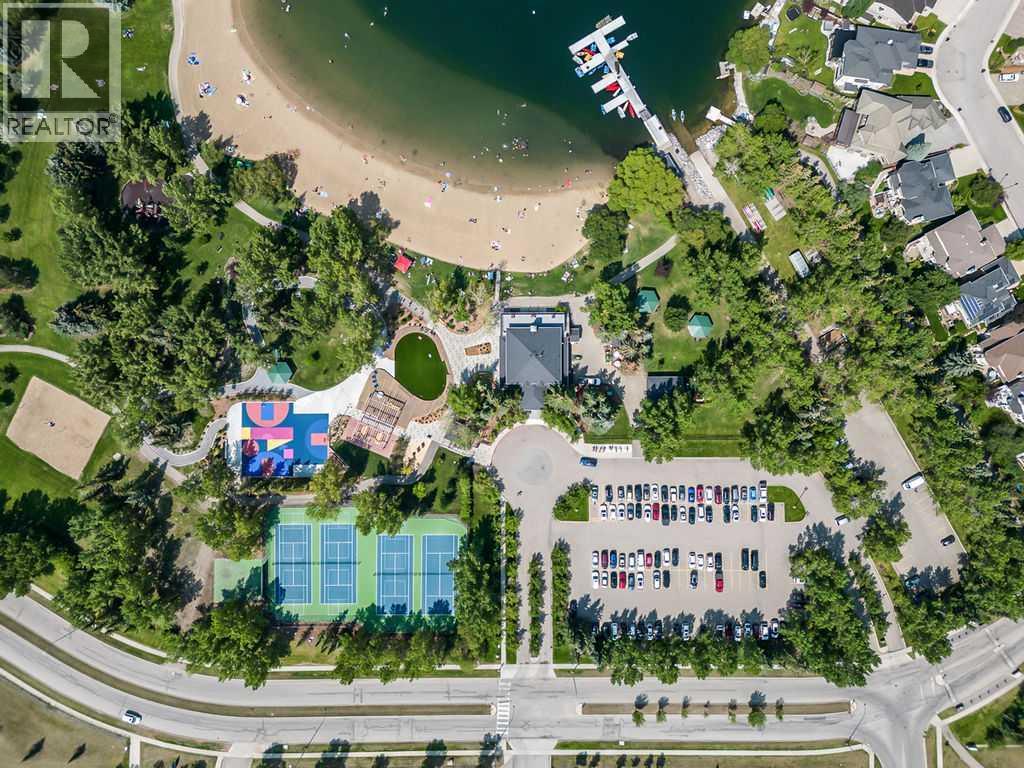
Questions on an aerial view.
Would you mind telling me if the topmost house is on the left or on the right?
right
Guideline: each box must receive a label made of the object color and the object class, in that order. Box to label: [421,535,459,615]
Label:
blue tennis court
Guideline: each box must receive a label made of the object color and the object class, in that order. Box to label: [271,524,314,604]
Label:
blue tennis court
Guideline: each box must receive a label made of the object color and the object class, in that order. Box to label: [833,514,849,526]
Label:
white vehicle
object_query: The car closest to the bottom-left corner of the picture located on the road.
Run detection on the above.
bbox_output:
[124,711,141,723]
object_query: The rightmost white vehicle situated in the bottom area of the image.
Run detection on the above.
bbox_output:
[903,475,923,489]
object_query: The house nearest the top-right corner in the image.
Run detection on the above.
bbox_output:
[870,0,942,31]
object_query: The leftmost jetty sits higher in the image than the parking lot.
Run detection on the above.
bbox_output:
[569,14,676,158]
